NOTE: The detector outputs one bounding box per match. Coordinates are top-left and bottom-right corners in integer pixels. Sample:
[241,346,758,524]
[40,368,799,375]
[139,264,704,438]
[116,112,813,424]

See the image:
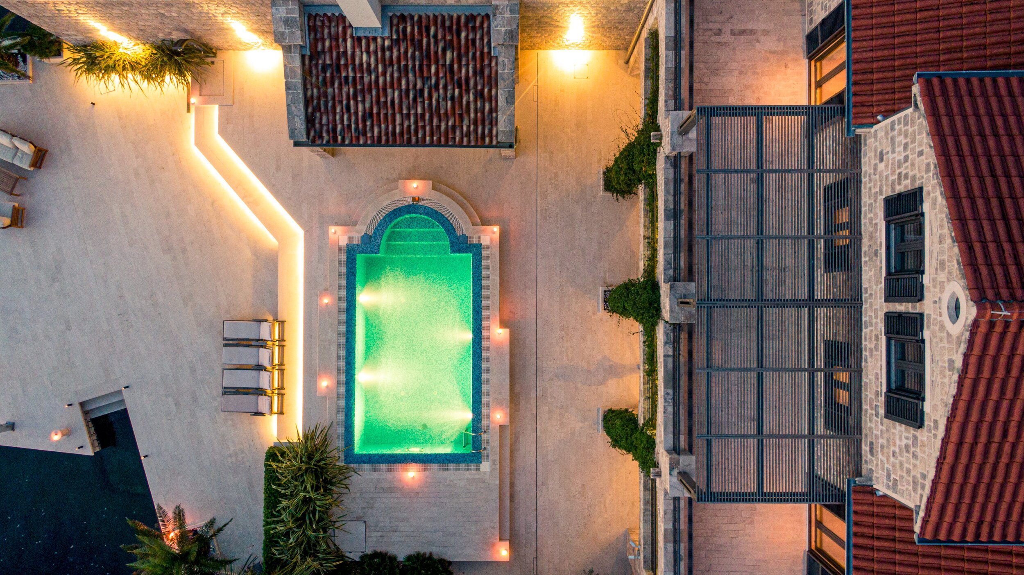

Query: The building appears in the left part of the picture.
[270,0,519,171]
